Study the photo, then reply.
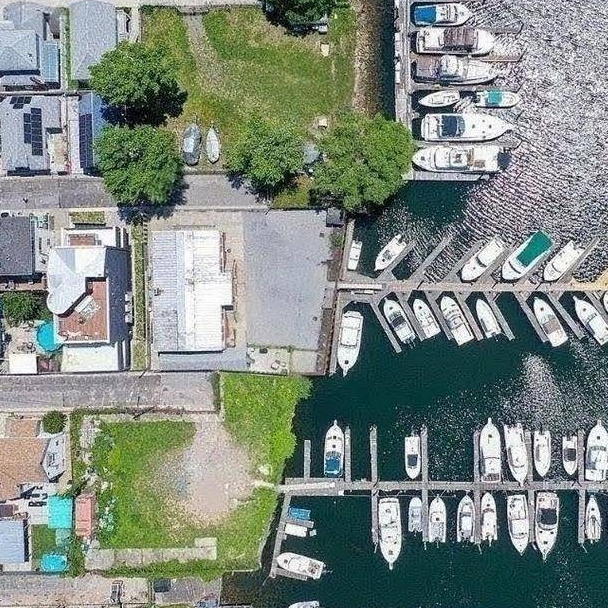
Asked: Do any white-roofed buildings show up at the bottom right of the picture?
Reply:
No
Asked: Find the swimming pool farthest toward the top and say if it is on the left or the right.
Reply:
left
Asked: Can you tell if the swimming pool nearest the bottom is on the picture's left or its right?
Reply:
left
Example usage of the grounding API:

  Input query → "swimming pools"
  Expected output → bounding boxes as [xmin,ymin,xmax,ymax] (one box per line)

[34,323,61,351]
[41,552,69,572]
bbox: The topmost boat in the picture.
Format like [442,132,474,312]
[413,2,474,26]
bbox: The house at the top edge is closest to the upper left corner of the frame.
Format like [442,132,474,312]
[0,4,48,75]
